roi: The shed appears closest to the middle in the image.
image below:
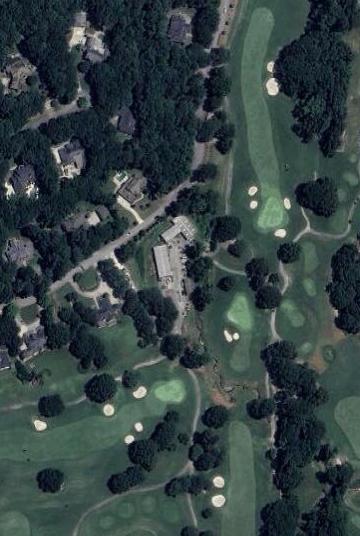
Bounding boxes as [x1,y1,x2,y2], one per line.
[154,244,173,278]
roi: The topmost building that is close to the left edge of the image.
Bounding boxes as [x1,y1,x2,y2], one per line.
[1,59,37,90]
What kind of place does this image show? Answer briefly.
golf course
